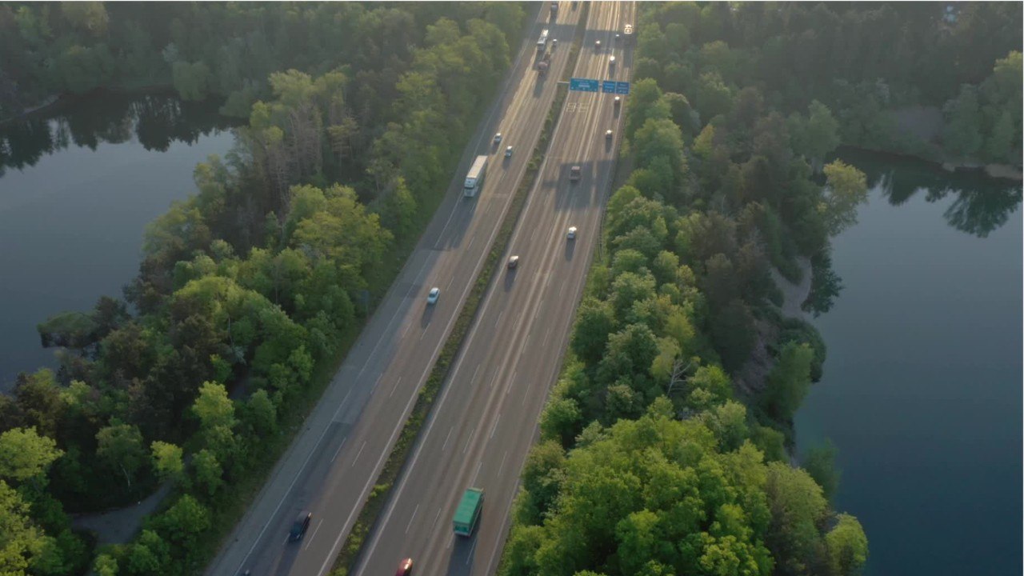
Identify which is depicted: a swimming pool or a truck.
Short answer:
truck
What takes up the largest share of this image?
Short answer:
trees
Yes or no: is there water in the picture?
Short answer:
Yes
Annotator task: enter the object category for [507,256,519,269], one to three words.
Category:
vehicle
